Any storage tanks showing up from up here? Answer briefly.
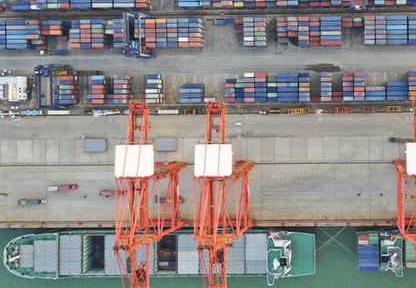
No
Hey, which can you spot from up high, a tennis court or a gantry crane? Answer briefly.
gantry crane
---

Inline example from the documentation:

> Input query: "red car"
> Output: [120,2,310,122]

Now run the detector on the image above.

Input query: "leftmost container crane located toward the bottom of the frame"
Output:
[105,97,192,288]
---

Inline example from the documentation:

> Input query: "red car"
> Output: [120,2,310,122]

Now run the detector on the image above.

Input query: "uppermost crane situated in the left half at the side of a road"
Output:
[126,12,158,58]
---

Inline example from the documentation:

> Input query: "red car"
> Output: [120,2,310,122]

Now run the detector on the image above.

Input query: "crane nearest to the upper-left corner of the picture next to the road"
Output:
[38,65,76,110]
